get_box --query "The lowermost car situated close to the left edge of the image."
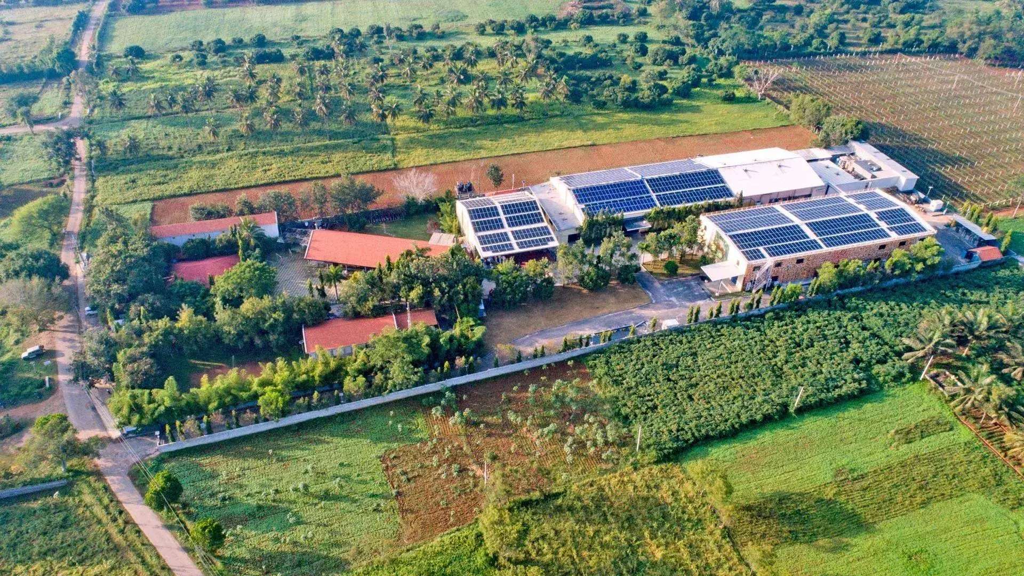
[19,342,48,359]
